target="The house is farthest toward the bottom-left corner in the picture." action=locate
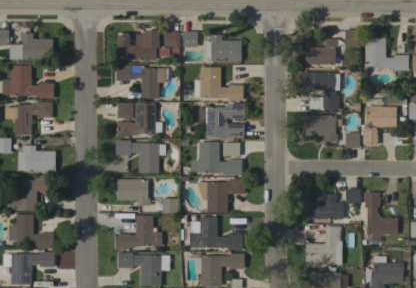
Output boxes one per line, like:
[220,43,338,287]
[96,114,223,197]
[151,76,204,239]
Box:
[4,252,55,284]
